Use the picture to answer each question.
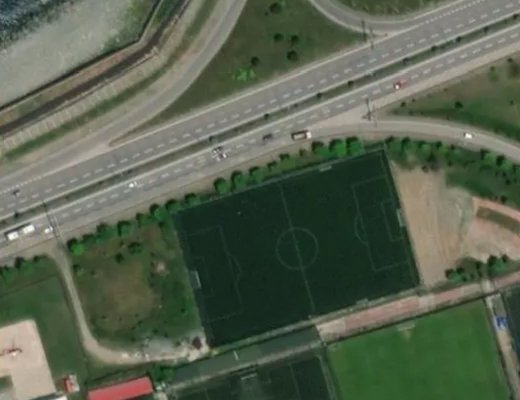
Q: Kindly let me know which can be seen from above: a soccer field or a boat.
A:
soccer field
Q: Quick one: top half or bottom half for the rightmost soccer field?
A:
bottom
